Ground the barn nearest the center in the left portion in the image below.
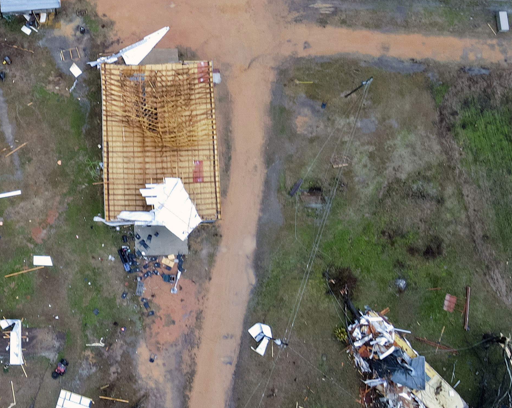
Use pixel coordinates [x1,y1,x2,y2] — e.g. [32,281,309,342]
[100,61,221,223]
